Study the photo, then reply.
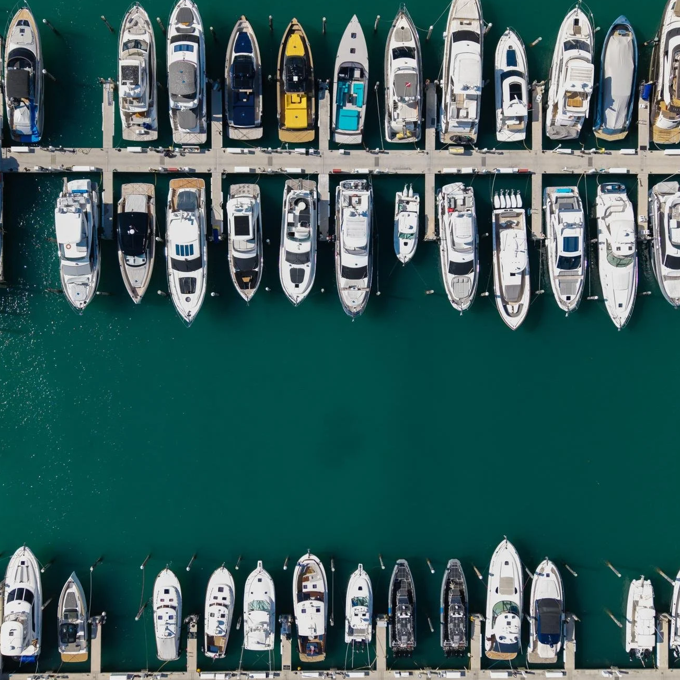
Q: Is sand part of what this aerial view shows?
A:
No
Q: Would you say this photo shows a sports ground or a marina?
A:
marina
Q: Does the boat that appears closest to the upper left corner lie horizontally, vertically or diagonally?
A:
vertically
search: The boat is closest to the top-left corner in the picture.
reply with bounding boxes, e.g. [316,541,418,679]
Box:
[5,2,50,144]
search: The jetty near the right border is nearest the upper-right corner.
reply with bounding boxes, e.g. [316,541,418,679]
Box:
[637,84,649,149]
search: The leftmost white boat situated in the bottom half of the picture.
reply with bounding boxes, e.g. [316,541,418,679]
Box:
[1,540,45,662]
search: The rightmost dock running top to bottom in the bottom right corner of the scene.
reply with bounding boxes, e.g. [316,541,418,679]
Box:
[654,617,668,670]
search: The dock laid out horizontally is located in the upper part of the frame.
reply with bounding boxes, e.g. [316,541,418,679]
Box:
[3,148,680,175]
